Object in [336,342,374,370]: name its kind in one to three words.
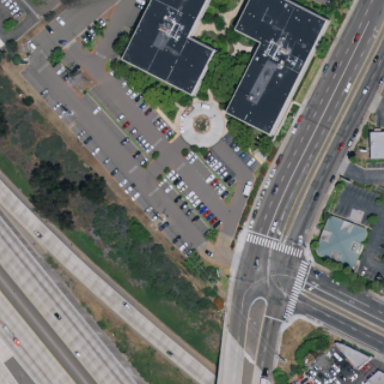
building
